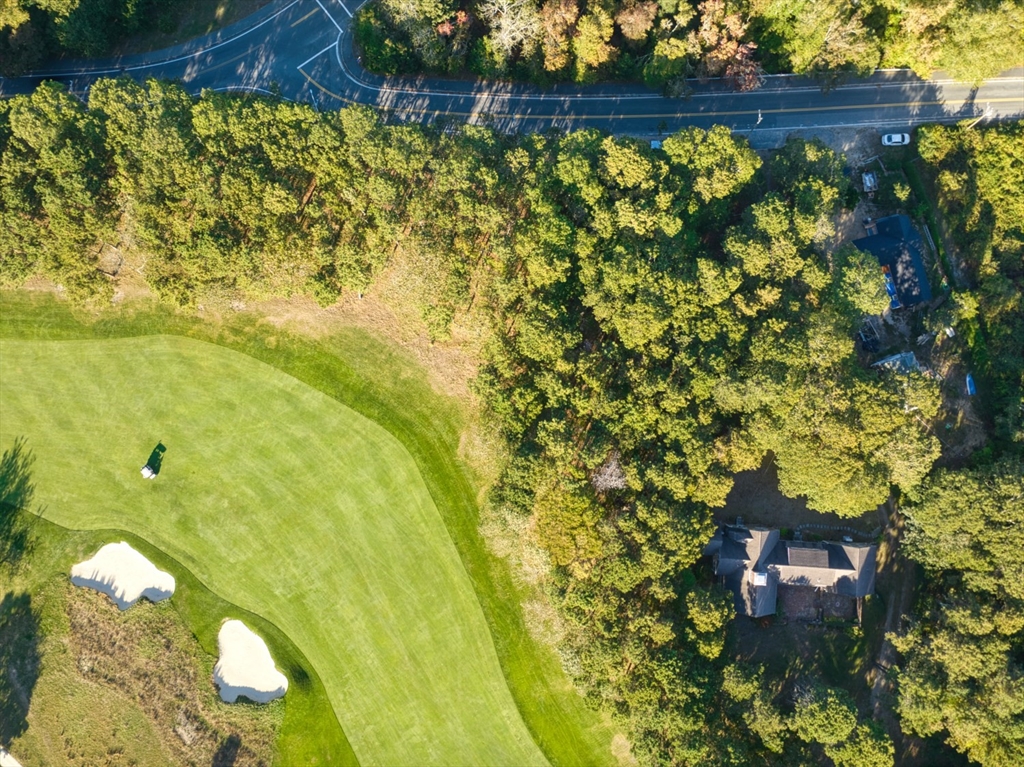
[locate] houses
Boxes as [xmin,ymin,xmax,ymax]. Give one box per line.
[847,215,932,306]
[704,525,876,617]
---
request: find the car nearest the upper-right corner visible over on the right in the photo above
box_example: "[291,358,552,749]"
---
[881,132,911,146]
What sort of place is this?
golf course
